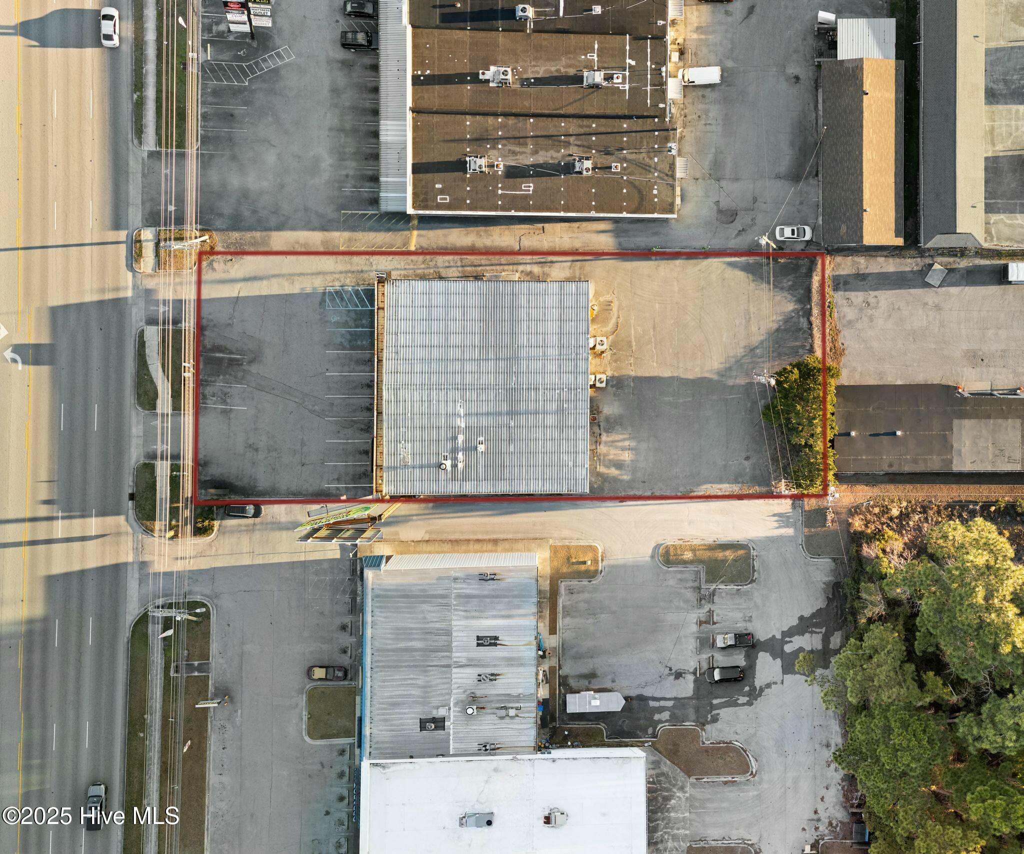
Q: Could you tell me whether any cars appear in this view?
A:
Yes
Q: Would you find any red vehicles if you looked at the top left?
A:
No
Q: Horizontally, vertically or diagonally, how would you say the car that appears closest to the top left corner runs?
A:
vertically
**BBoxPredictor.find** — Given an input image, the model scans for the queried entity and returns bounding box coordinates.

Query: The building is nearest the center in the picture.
[372,272,591,495]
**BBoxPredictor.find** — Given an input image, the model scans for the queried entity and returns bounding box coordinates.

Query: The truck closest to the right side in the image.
[987,262,1024,285]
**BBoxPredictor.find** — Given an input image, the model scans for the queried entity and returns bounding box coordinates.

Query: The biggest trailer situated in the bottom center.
[566,686,626,712]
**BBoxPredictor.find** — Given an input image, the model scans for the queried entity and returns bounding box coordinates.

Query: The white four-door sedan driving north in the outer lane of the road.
[101,9,121,50]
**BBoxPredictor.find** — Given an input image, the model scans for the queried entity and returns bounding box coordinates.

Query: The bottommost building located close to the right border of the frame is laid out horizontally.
[822,384,1024,472]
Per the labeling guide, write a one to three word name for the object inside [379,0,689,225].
building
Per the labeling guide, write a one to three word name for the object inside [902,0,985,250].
building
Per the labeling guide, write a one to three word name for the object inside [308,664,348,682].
car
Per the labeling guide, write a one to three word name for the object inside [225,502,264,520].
vehicle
